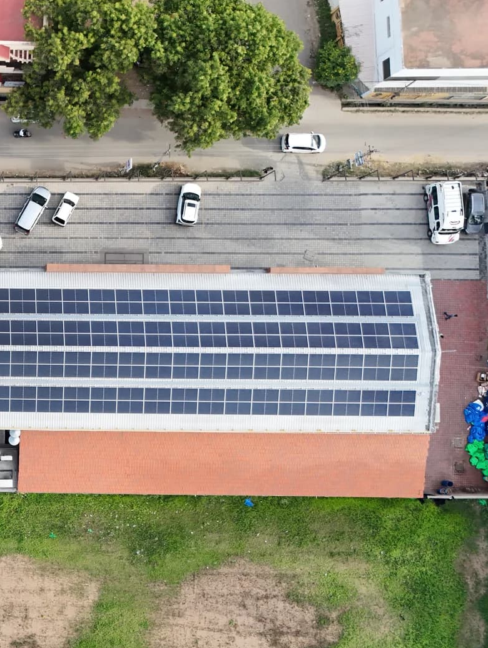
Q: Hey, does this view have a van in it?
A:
Yes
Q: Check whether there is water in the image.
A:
No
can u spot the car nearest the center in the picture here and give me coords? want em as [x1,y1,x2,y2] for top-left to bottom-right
[174,183,204,227]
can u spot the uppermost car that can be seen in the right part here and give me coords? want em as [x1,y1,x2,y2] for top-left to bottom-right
[279,131,325,155]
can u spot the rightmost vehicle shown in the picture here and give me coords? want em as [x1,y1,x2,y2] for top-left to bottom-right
[460,189,488,236]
